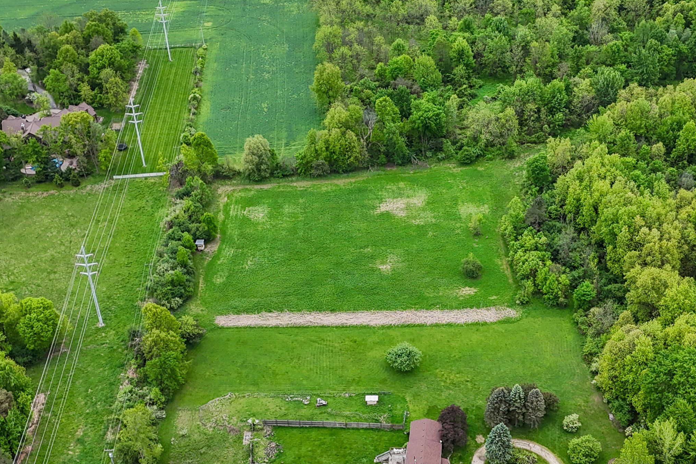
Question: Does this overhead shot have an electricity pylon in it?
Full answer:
Yes, looking at the shot, I can spot an electricity pylon.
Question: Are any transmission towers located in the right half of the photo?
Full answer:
No, I can find no transmission tower in the right half of the photo.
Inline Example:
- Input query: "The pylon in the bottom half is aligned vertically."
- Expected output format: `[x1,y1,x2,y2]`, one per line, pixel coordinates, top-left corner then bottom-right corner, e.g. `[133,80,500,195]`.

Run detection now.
[75,246,104,327]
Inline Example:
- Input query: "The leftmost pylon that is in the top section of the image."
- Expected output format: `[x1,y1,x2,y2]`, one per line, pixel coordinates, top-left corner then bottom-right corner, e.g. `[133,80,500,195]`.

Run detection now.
[126,97,148,167]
